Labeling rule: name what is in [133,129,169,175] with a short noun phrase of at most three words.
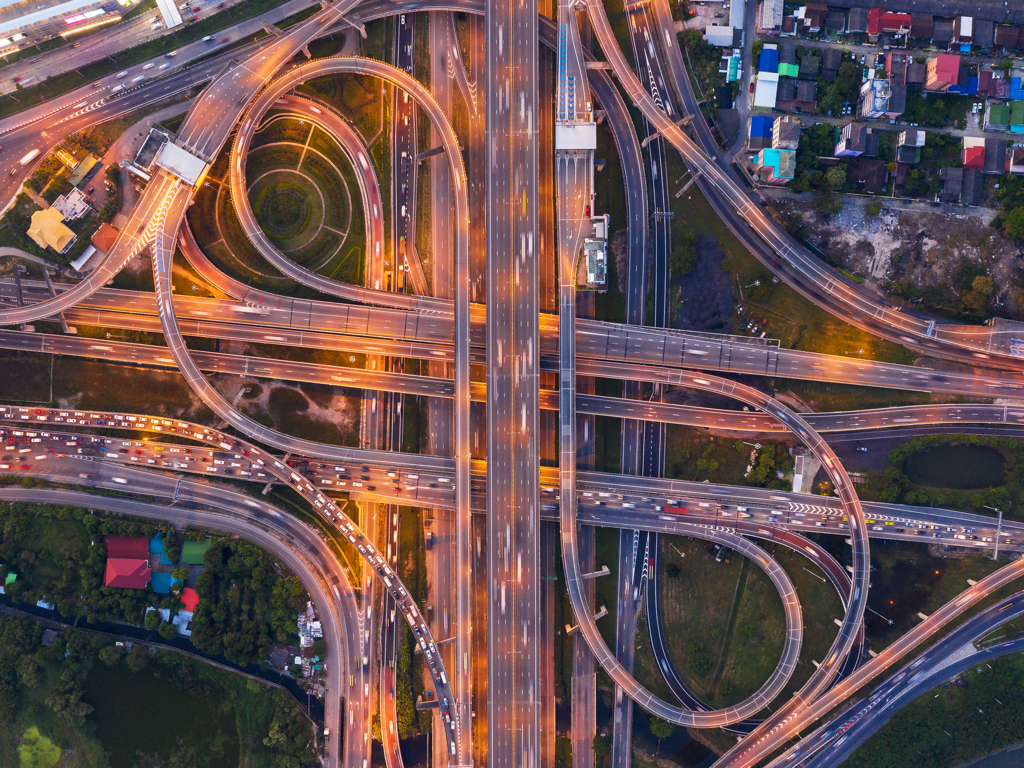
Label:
building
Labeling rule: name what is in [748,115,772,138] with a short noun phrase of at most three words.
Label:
house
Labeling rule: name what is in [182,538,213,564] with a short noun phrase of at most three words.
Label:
barn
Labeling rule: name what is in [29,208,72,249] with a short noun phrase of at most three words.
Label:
house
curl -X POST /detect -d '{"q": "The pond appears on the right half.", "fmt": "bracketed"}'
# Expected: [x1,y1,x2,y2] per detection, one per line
[903,442,1006,489]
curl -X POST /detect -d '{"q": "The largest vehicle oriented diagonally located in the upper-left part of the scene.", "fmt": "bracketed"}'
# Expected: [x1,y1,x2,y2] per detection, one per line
[18,148,38,163]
